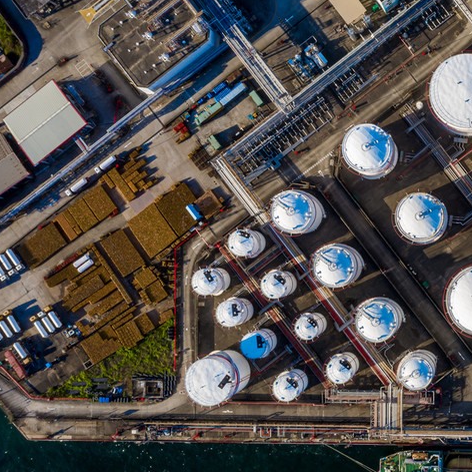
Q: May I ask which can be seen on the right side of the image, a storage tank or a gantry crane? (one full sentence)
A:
The one visible on the right side of the image is a storage tank.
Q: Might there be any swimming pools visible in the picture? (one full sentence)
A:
No, no swimming pool can be seen from above.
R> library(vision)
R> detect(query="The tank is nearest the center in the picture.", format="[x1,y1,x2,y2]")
[225,227,275,263]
